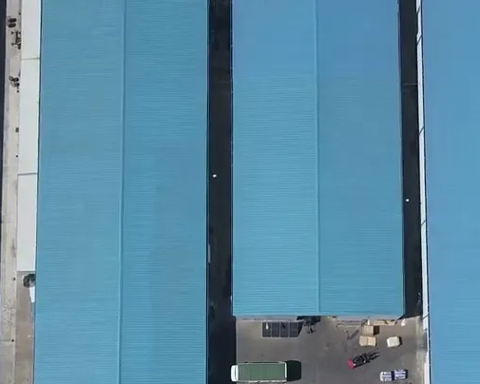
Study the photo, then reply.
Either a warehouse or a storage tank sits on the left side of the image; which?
warehouse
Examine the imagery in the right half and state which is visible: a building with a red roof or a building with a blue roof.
building with a blue roof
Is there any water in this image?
No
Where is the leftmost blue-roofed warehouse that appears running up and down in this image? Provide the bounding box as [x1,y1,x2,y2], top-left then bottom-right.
[31,0,210,384]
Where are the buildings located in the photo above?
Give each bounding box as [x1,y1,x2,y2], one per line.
[416,0,480,384]
[31,0,210,384]
[230,0,406,320]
